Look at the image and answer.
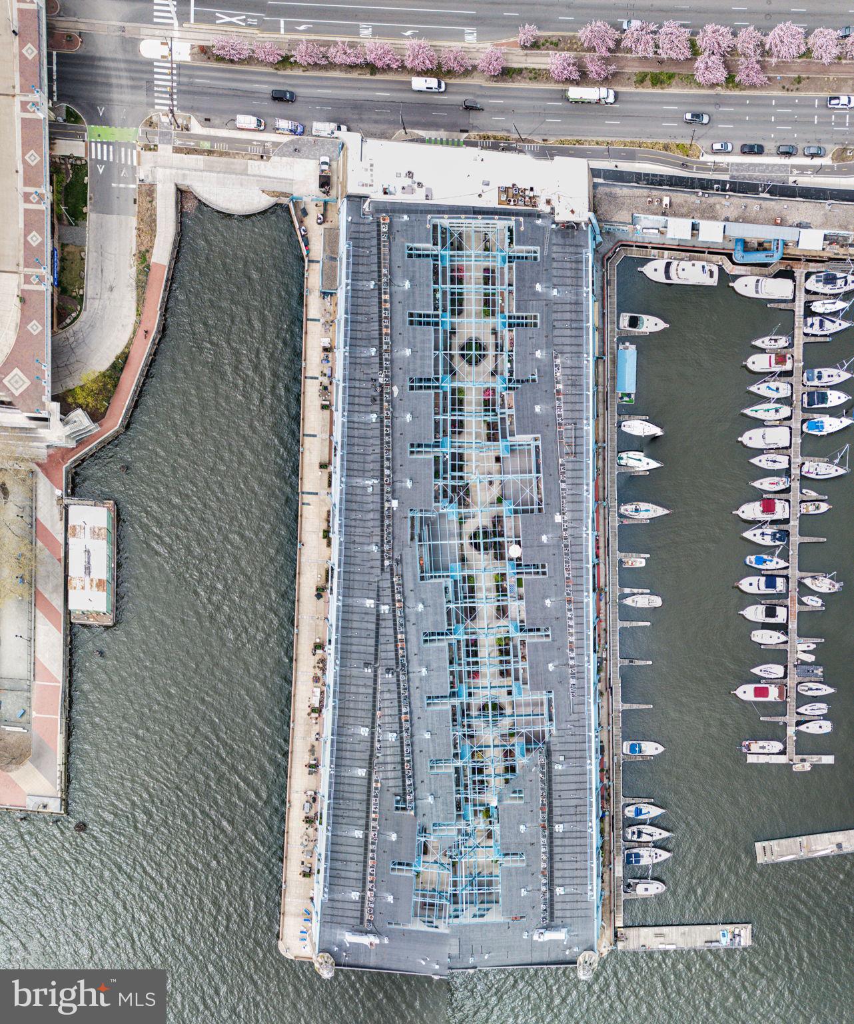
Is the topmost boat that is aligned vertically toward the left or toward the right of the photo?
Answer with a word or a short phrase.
right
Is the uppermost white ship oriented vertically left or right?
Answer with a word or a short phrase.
left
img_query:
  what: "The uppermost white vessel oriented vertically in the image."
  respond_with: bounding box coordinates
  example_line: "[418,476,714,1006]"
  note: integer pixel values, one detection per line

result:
[63,495,118,626]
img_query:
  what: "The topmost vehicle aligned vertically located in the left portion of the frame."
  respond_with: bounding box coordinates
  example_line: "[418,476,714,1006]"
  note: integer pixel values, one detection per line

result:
[317,154,330,196]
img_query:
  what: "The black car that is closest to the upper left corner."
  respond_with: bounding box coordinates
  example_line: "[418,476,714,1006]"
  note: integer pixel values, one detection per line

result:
[270,87,294,101]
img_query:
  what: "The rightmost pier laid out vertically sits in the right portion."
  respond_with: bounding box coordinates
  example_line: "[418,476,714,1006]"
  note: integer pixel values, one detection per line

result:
[785,268,808,764]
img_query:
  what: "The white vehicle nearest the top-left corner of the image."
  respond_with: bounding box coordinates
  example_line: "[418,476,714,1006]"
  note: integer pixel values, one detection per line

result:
[233,111,264,128]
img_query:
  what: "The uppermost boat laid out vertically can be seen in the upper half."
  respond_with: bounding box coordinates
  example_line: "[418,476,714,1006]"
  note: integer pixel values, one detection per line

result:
[618,340,639,403]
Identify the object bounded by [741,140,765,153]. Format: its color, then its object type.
black vehicle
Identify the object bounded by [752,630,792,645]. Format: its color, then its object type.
white boat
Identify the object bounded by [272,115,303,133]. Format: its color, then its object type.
white vehicle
